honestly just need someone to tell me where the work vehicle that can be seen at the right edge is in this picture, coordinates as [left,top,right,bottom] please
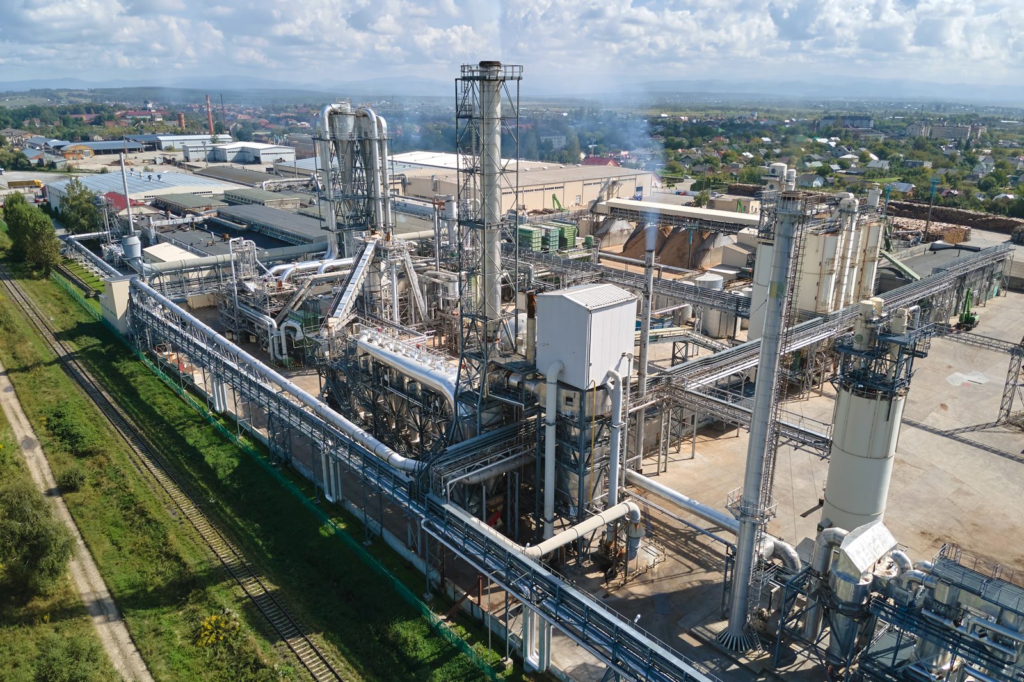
[942,280,984,331]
